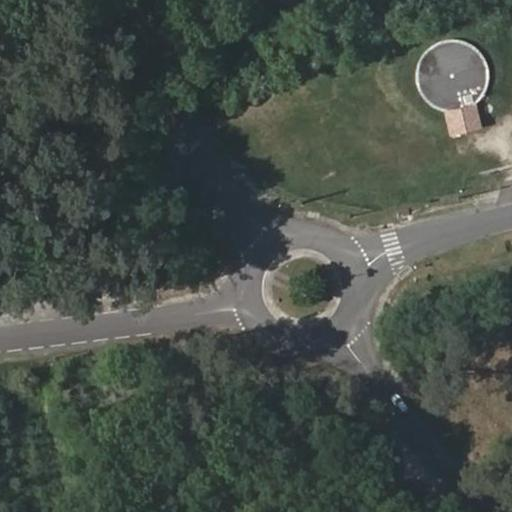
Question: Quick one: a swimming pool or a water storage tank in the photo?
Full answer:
There is a water storage tank in the scene.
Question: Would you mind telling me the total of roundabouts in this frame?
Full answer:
I count just 1 roundabout.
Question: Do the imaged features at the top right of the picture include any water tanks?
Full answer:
Yes, you'll find a water tank at the top right of the picture.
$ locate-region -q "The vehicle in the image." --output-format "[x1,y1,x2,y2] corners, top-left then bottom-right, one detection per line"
[392,394,409,414]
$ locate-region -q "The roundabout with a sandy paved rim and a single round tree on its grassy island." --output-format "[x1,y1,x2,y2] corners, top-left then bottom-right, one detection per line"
[228,207,388,361]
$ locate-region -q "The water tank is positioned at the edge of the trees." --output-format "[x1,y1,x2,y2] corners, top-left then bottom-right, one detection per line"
[416,38,490,112]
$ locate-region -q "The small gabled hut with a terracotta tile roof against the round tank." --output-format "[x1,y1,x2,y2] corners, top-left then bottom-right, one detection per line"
[447,103,482,136]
